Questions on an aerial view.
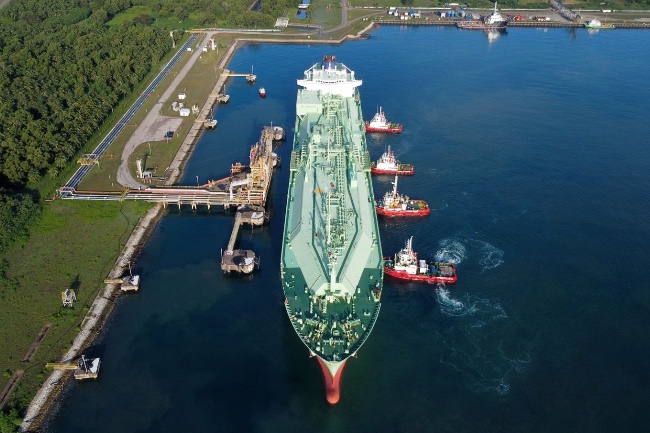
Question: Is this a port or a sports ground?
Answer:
port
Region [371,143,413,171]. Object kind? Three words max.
boat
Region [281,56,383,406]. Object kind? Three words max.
ship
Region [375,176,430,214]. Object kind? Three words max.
boat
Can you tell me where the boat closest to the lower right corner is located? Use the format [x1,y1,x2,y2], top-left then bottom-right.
[382,232,456,279]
